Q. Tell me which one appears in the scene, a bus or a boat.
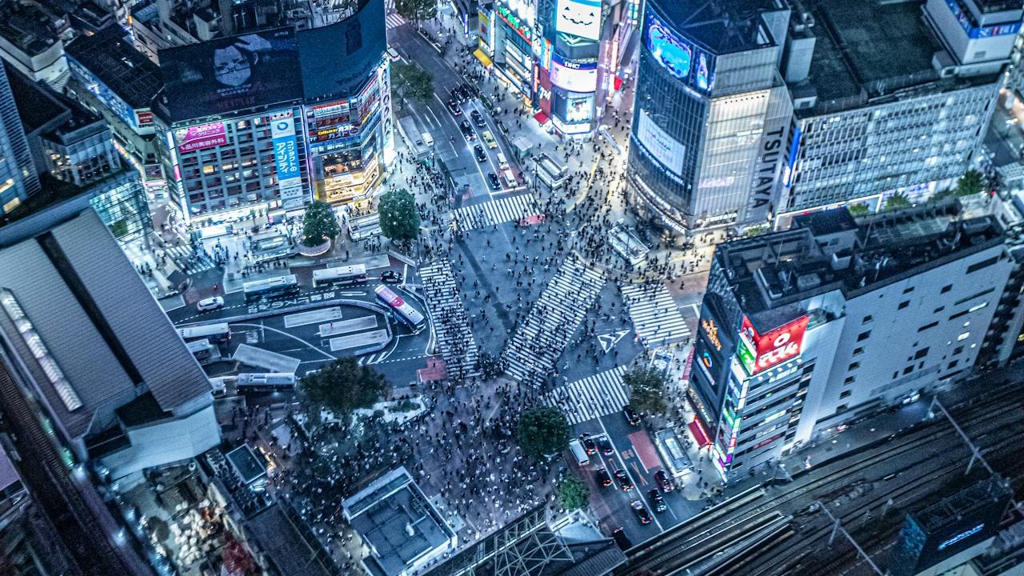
bus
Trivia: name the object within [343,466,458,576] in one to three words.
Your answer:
building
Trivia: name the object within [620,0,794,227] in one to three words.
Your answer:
building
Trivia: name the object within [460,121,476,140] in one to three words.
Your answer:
car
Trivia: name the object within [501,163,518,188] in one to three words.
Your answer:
vehicle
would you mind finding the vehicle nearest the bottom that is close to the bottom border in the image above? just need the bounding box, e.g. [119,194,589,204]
[611,524,633,548]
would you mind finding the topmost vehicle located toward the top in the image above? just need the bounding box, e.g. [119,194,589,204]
[387,45,401,62]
